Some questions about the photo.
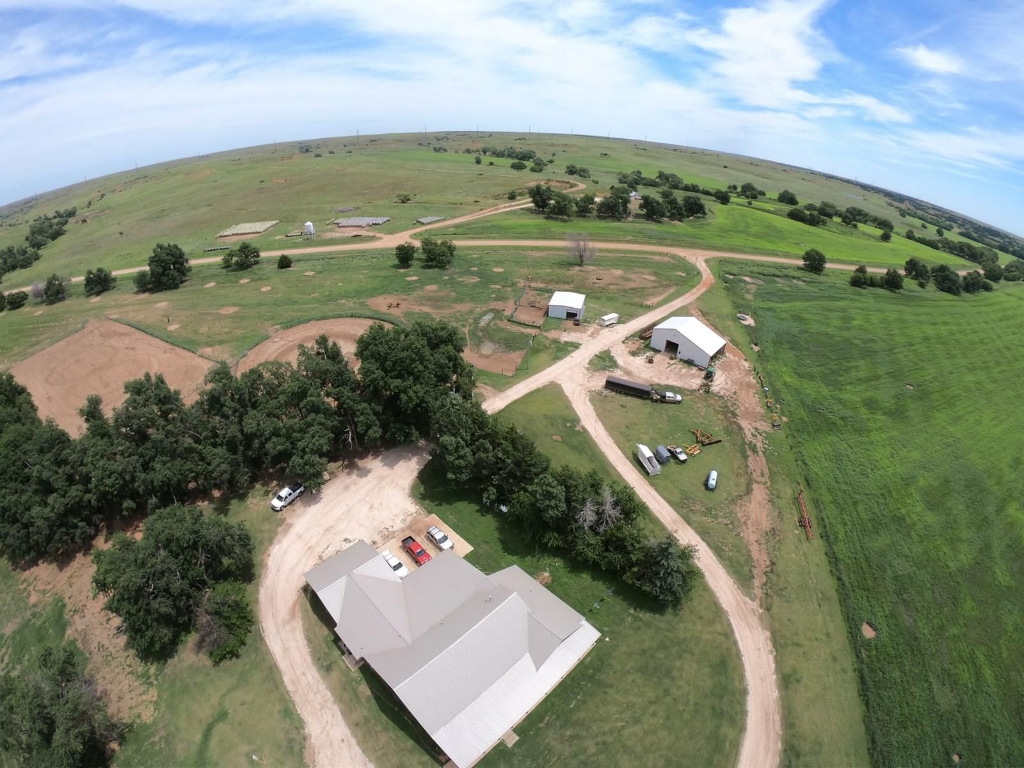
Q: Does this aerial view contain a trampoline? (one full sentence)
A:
No, I can see no trampoline in this picture.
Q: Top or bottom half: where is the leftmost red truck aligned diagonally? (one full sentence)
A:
You can find the leftmost red truck aligned diagonally in the bottom half.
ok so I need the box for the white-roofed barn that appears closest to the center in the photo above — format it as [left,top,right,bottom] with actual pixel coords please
[548,291,583,319]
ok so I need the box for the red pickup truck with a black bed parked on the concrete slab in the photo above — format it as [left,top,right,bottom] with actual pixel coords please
[396,531,435,569]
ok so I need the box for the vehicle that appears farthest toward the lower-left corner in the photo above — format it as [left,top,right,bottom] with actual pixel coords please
[266,482,308,512]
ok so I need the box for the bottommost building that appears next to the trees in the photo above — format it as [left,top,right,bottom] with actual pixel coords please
[302,541,601,768]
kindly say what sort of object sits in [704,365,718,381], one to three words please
work vehicle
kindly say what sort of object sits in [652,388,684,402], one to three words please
vehicle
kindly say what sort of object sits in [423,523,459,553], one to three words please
car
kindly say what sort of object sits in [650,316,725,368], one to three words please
barn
